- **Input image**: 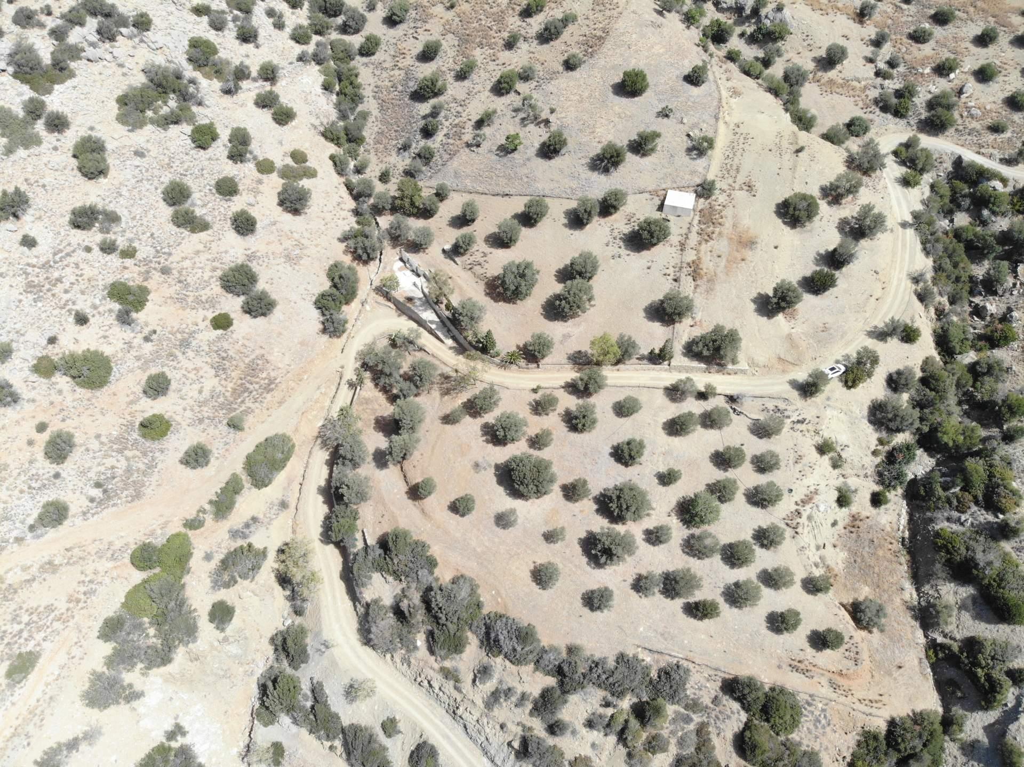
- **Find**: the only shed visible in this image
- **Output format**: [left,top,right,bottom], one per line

[663,190,696,218]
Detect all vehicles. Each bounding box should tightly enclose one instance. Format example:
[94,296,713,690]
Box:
[822,363,847,379]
